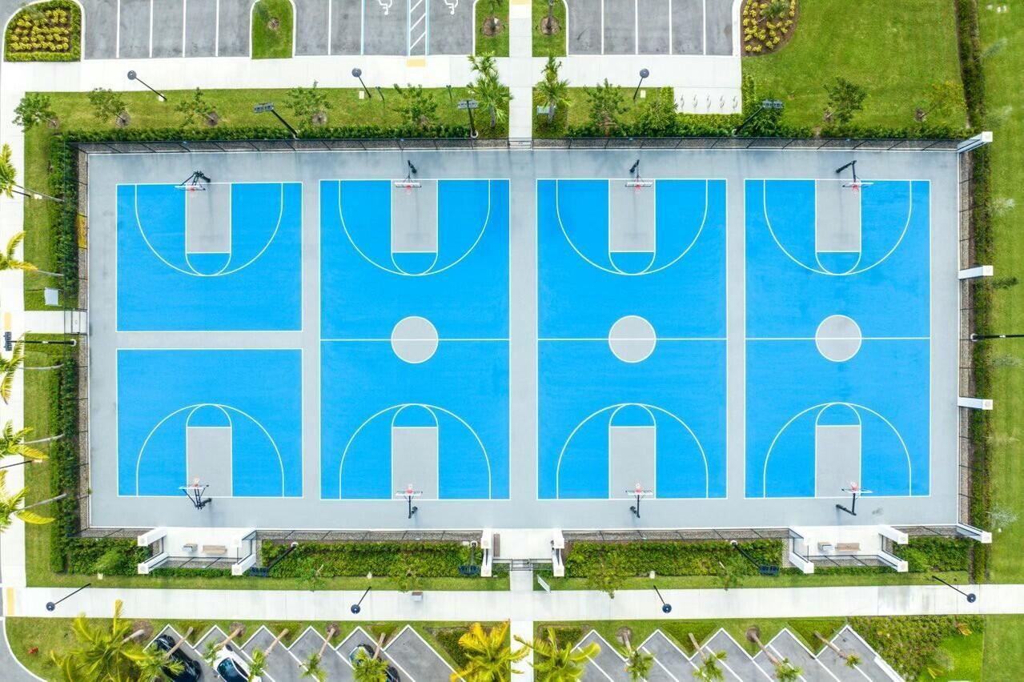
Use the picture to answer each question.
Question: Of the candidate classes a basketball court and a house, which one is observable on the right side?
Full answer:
Looking on the right side, you will find a basketball court.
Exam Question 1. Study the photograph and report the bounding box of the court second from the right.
[537,179,727,500]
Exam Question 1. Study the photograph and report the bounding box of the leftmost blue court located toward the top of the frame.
[116,183,303,331]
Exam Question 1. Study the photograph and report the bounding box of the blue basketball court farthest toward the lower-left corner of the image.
[117,348,303,497]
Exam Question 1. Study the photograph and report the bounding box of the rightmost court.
[745,180,931,499]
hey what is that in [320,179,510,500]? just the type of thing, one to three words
basketball court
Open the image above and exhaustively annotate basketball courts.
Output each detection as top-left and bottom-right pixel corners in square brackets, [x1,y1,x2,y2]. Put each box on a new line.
[745,180,931,499]
[537,179,727,500]
[116,183,303,331]
[117,348,303,497]
[320,179,510,500]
